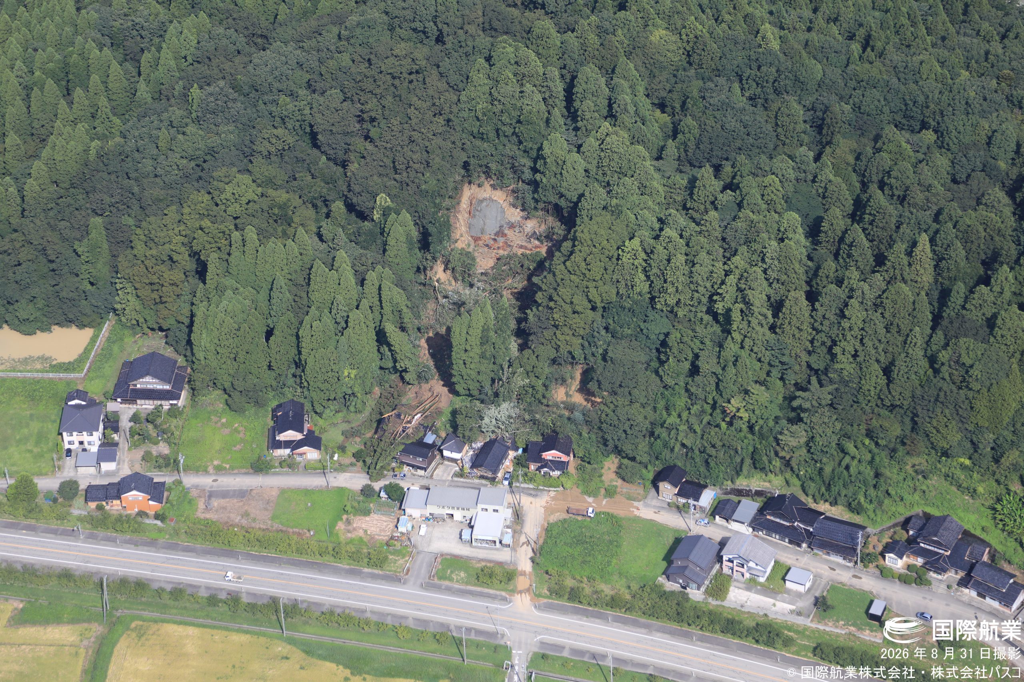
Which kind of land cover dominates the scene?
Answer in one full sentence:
Most of the picture is covered by trees.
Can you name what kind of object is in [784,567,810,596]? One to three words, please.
building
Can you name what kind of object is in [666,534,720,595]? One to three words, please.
house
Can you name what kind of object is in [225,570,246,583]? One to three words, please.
vehicle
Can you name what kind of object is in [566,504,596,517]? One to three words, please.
vehicle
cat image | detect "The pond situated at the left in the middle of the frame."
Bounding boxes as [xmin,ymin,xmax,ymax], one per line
[0,320,93,369]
